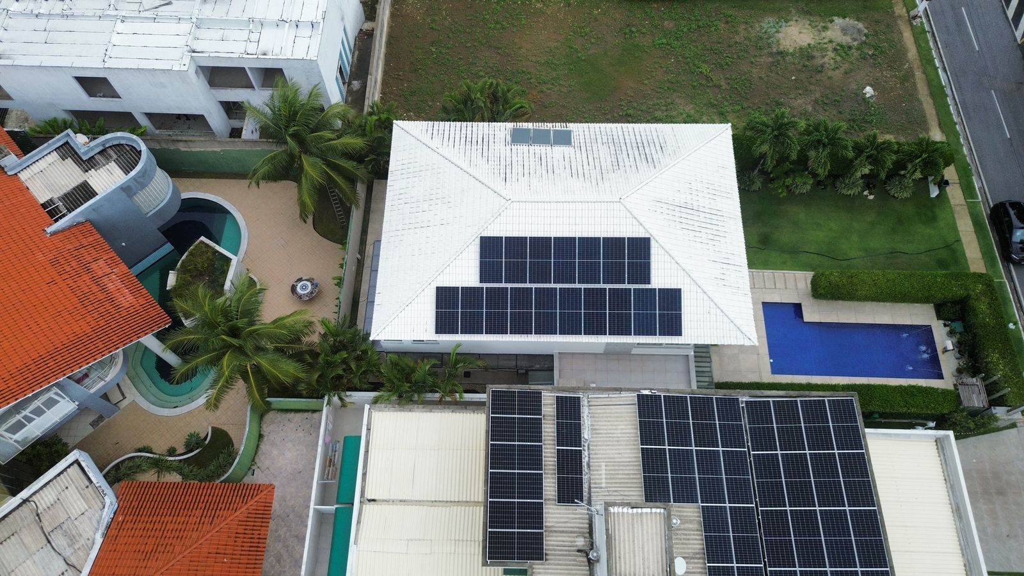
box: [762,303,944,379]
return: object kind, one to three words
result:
swimming pool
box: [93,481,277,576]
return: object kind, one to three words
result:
house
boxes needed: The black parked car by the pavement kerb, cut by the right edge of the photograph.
[992,198,1024,269]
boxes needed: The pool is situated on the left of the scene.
[135,195,240,408]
